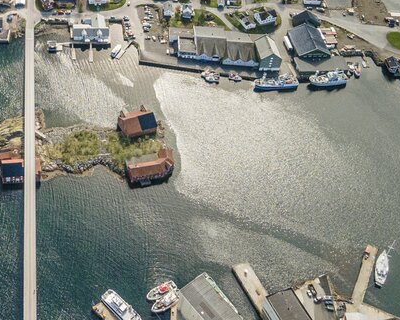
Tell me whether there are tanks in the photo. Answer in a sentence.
No, there isn't any tank down there.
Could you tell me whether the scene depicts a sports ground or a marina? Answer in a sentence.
What you see here is a marina.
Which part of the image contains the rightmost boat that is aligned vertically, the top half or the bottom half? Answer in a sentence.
You can find the rightmost boat that is aligned vertically in the bottom half.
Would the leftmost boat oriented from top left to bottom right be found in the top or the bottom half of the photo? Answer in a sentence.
Seen from above, the leftmost boat oriented from top left to bottom right lies in the bottom half of the view.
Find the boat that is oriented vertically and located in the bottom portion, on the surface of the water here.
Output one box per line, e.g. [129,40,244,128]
[373,237,400,291]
